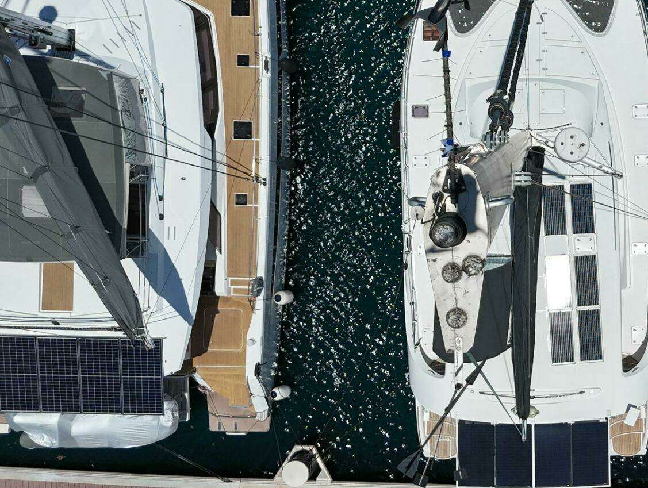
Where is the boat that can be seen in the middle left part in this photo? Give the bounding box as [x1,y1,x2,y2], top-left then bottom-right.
[0,0,294,434]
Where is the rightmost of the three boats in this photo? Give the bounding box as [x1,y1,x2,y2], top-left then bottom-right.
[397,0,648,488]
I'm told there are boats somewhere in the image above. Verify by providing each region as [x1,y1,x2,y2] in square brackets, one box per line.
[397,0,648,488]
[0,388,179,450]
[0,0,294,434]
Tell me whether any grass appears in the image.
No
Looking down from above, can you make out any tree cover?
No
